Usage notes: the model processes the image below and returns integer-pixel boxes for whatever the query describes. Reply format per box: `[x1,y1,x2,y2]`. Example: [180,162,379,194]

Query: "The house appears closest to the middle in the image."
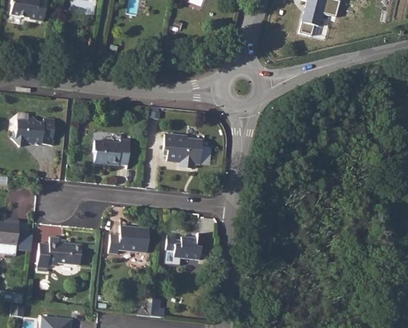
[163,133,214,170]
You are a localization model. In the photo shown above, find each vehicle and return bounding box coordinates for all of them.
[304,64,316,70]
[106,220,112,232]
[248,44,253,55]
[187,198,198,202]
[261,72,272,77]
[16,86,31,93]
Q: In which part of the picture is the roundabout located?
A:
top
